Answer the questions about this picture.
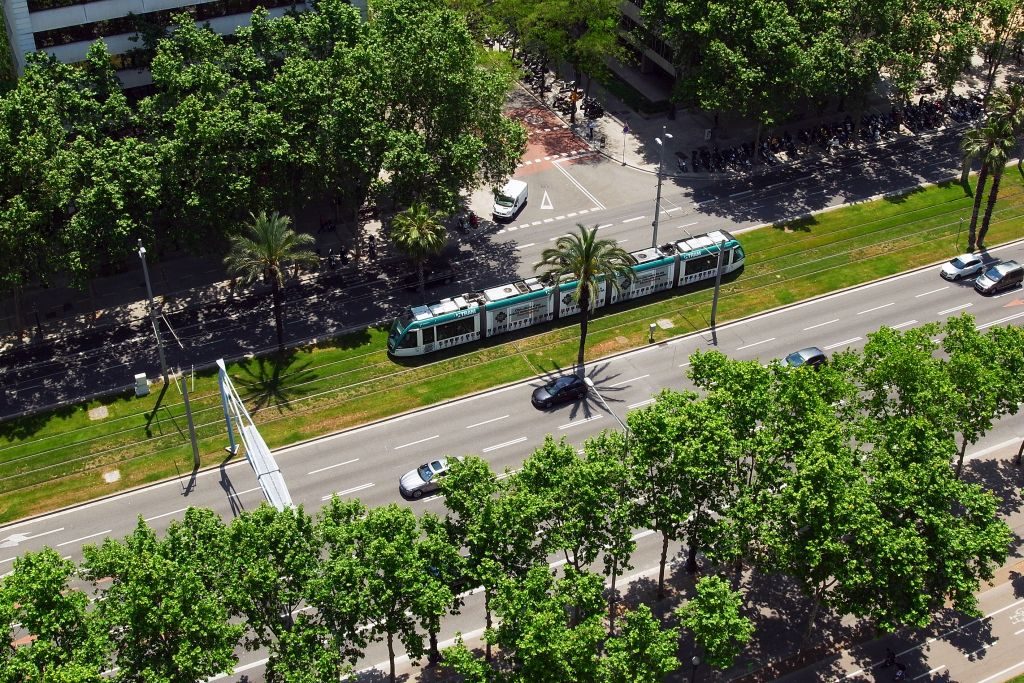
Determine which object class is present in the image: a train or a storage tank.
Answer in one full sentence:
This aerial view contains a train.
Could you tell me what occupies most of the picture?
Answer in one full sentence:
For the most part, this view shows trees.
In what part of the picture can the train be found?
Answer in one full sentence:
The train is in the center part of the image.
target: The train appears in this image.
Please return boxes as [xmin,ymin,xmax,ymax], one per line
[385,228,750,357]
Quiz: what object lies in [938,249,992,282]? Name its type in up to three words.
car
